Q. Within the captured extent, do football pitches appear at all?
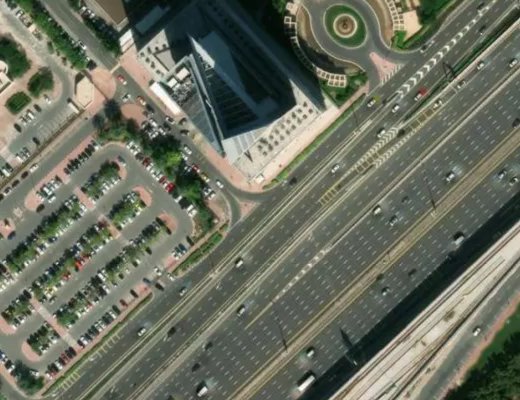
No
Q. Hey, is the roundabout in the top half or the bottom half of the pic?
top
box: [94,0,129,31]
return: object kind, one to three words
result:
building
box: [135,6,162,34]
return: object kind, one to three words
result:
building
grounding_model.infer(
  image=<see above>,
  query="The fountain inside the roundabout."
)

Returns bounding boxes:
[334,14,358,38]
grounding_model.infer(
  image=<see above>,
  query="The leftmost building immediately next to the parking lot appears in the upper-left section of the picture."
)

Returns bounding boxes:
[76,77,93,108]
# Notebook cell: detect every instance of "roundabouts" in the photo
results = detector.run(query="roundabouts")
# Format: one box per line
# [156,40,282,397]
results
[301,0,414,110]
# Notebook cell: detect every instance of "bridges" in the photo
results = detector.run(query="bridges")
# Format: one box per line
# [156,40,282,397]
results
[328,222,520,400]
